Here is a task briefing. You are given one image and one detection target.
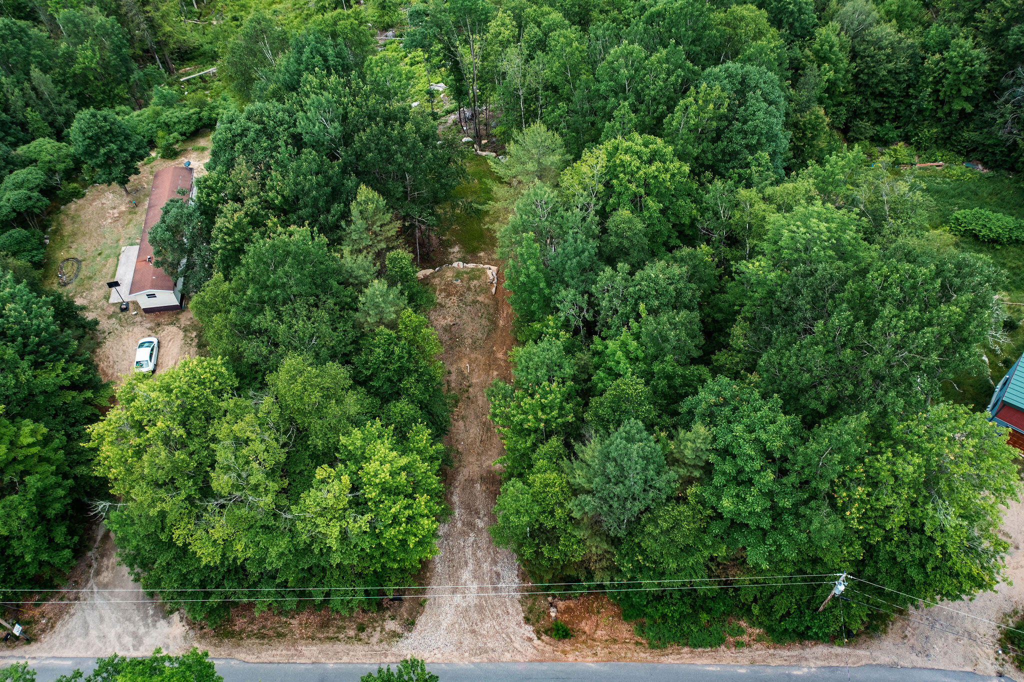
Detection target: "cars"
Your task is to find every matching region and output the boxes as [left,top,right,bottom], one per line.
[133,336,159,374]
